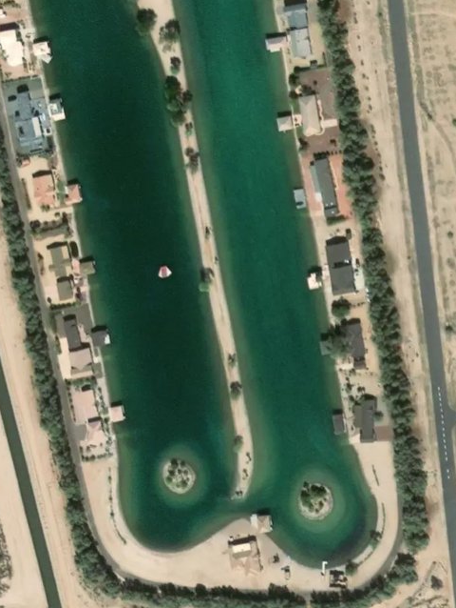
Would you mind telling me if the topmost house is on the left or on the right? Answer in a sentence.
It is on the right.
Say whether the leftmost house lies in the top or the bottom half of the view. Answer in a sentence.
The top half of the photo is where the leftmost house is.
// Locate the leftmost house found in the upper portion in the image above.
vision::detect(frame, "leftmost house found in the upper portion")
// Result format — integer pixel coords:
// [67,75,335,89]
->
[0,30,23,65]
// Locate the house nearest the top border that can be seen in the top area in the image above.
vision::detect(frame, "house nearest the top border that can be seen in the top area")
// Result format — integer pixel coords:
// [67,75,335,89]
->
[285,1,309,30]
